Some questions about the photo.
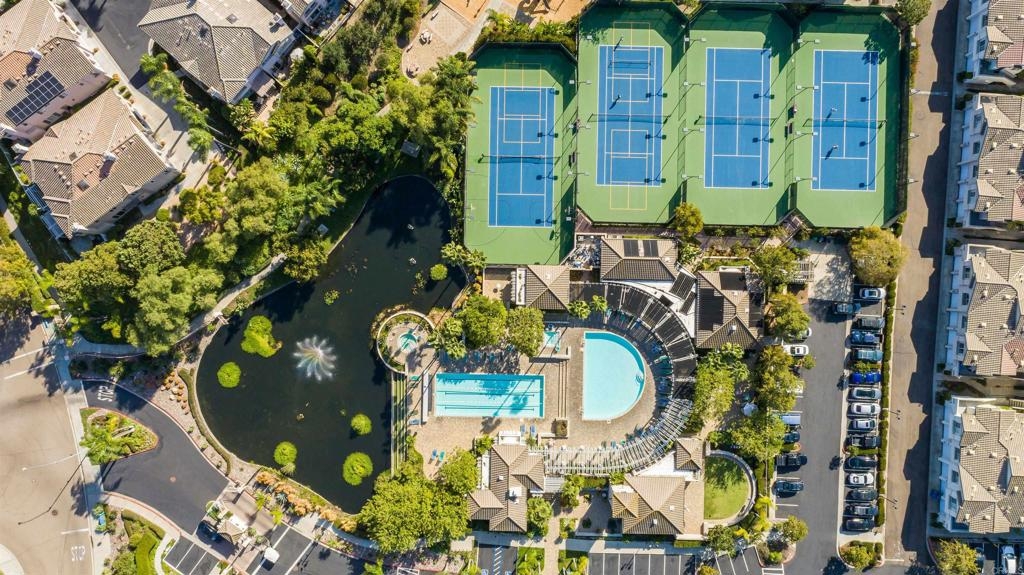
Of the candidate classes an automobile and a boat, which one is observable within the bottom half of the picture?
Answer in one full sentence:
It is an automobile that can be seen within the bottom half of the picture.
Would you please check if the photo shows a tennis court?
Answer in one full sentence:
Yes, the frame does contain a tennis court.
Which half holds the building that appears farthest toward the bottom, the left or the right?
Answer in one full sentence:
You can find the building that appears farthest toward the bottom on the left side of the picture.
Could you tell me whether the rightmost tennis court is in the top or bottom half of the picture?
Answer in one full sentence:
It is in the top half that the rightmost tennis court appears.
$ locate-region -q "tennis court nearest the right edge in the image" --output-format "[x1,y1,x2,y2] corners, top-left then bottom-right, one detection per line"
[788,21,892,230]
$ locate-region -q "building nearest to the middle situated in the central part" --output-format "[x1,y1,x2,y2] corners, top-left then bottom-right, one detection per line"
[526,264,571,311]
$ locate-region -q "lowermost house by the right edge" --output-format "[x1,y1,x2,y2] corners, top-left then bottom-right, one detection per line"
[934,395,1024,534]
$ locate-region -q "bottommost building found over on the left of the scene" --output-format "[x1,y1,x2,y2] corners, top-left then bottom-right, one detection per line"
[216,514,250,547]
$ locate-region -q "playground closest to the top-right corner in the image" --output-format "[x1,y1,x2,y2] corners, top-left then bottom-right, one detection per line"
[523,0,585,24]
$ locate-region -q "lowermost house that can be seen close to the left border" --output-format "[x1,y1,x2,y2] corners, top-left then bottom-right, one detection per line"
[20,87,177,238]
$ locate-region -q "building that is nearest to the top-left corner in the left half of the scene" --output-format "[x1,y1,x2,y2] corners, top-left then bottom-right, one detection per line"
[0,0,108,128]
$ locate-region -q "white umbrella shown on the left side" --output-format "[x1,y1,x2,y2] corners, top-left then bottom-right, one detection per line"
[290,46,304,60]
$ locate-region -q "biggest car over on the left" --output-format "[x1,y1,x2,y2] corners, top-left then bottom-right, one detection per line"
[196,517,223,543]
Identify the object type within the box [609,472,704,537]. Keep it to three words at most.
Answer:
building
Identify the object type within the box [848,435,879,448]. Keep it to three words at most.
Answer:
vehicle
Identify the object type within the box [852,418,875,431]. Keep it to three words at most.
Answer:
vehicle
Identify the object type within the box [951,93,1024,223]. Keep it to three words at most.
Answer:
house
